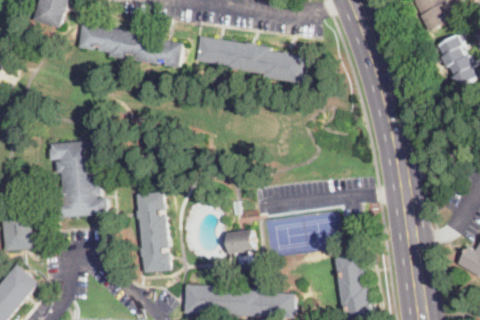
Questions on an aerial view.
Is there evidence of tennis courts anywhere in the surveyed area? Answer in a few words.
Yes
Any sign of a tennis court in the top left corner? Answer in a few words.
No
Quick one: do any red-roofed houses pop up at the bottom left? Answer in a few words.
No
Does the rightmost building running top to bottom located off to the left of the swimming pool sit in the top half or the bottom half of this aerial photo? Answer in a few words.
bottom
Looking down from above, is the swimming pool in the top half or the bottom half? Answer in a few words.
bottom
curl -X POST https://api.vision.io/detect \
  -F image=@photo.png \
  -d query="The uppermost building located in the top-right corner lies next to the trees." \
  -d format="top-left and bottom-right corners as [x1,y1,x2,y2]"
[418,0,447,32]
